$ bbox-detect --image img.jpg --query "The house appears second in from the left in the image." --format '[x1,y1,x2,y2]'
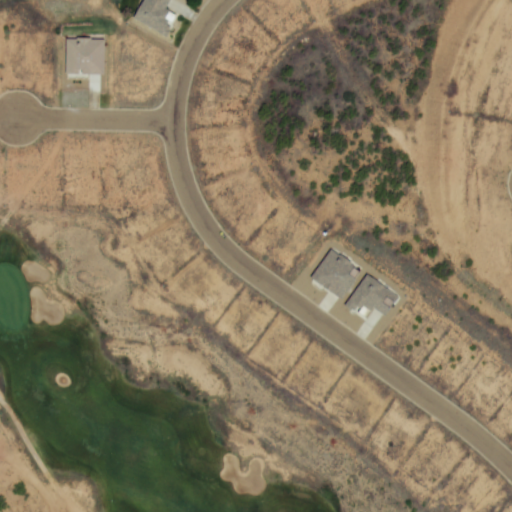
[135,0,182,37]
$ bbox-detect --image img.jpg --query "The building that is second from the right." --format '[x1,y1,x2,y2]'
[310,248,361,298]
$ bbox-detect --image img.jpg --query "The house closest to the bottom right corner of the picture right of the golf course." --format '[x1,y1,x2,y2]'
[346,274,398,320]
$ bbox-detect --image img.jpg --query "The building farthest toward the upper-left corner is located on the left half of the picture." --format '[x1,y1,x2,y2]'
[66,36,104,78]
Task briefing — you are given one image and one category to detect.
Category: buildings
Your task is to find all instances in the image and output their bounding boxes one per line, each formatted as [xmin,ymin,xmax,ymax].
[66,36,104,78]
[135,0,182,37]
[346,274,398,320]
[310,248,361,298]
